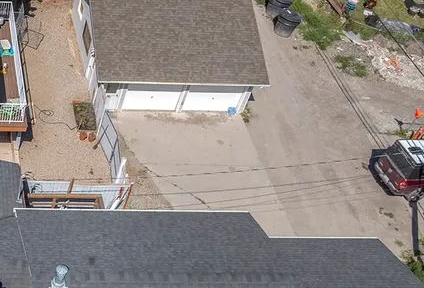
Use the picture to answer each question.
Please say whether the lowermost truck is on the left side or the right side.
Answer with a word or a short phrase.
right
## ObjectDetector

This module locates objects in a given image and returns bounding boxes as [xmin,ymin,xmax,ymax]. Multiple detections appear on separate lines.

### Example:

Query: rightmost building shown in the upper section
[74,0,271,118]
